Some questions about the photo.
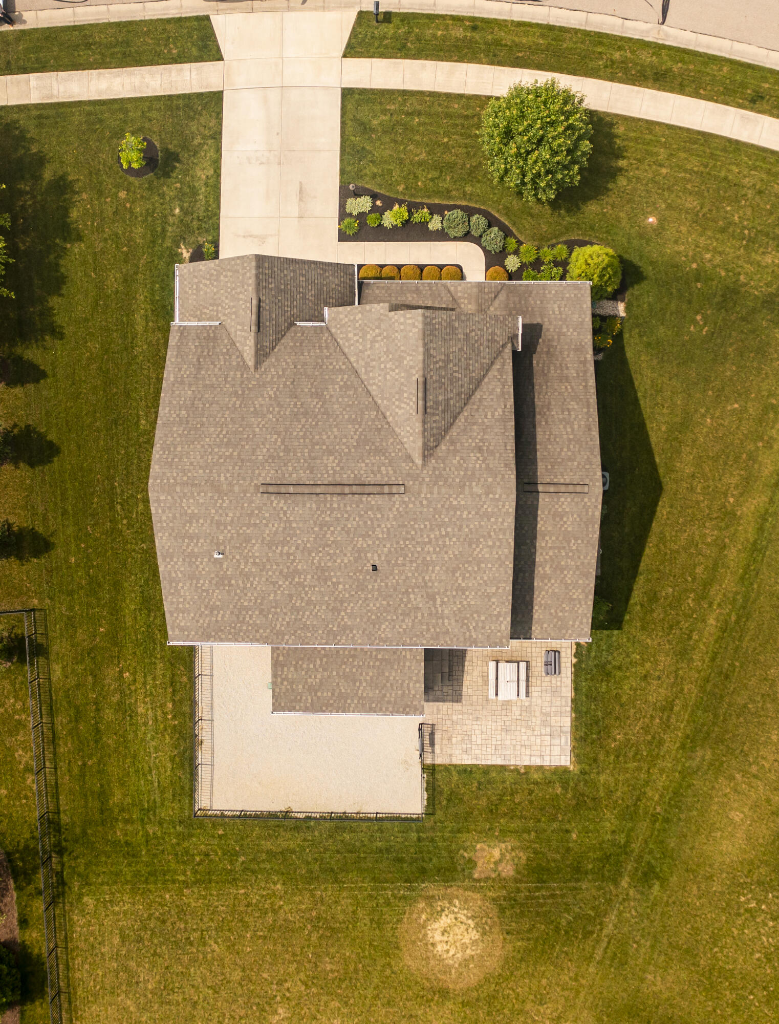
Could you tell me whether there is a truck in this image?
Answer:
No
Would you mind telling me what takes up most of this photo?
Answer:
grass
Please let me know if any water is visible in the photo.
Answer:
No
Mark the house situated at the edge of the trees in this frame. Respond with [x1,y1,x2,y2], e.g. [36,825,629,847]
[150,254,602,716]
